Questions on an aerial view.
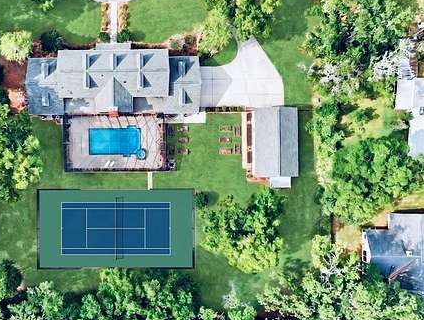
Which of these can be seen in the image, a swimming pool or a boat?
swimming pool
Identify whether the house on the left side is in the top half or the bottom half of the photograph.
top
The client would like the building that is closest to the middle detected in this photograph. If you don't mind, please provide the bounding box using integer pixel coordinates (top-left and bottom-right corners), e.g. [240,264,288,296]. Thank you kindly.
[249,105,298,188]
